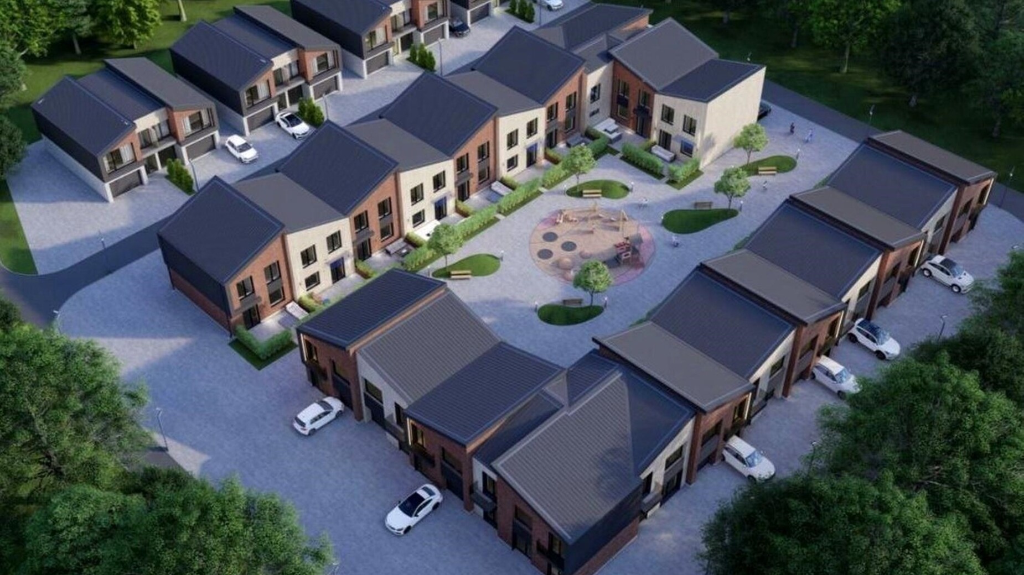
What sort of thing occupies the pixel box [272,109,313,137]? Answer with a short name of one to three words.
car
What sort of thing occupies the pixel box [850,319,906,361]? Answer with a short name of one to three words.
car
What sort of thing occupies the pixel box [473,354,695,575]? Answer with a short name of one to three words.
house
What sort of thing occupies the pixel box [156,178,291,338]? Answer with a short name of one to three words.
house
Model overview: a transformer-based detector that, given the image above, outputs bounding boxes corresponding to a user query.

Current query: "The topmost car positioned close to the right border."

[922,255,977,294]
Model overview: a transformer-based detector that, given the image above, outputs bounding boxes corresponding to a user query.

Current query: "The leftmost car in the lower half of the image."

[287,398,344,438]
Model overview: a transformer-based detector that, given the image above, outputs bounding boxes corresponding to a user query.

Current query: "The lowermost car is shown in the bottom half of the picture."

[382,486,445,537]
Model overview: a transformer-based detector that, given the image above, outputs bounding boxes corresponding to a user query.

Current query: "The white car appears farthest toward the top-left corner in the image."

[220,130,260,162]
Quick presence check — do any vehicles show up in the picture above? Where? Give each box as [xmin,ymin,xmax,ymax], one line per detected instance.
[811,357,866,397]
[922,255,977,294]
[382,486,445,537]
[850,319,906,361]
[754,101,777,123]
[287,398,344,438]
[721,437,780,484]
[272,109,313,137]
[220,130,260,162]
[446,14,476,38]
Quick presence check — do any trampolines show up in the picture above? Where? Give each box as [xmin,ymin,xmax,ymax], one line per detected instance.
[538,248,555,258]
[542,231,558,241]
[561,239,577,250]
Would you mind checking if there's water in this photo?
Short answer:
No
